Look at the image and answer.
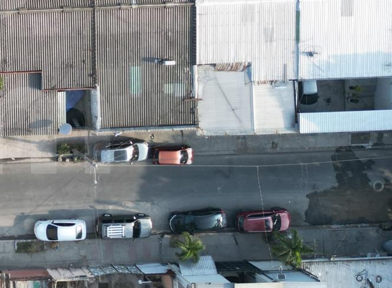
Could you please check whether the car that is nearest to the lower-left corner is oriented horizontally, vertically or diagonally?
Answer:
horizontally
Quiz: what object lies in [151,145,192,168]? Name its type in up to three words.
car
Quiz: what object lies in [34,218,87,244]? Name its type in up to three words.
car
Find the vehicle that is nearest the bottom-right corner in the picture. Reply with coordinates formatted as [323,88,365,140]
[234,207,290,235]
